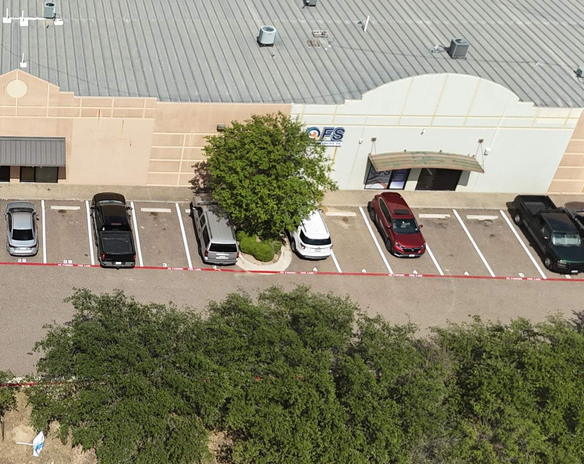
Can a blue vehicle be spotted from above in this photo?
No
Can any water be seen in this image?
No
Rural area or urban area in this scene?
urban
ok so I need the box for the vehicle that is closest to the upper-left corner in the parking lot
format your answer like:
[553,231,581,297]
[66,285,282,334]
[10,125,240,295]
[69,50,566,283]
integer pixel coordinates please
[4,201,42,257]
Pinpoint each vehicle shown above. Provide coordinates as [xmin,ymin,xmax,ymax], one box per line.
[90,199,133,269]
[279,203,332,259]
[4,201,42,257]
[511,200,584,273]
[371,197,423,258]
[192,201,239,265]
